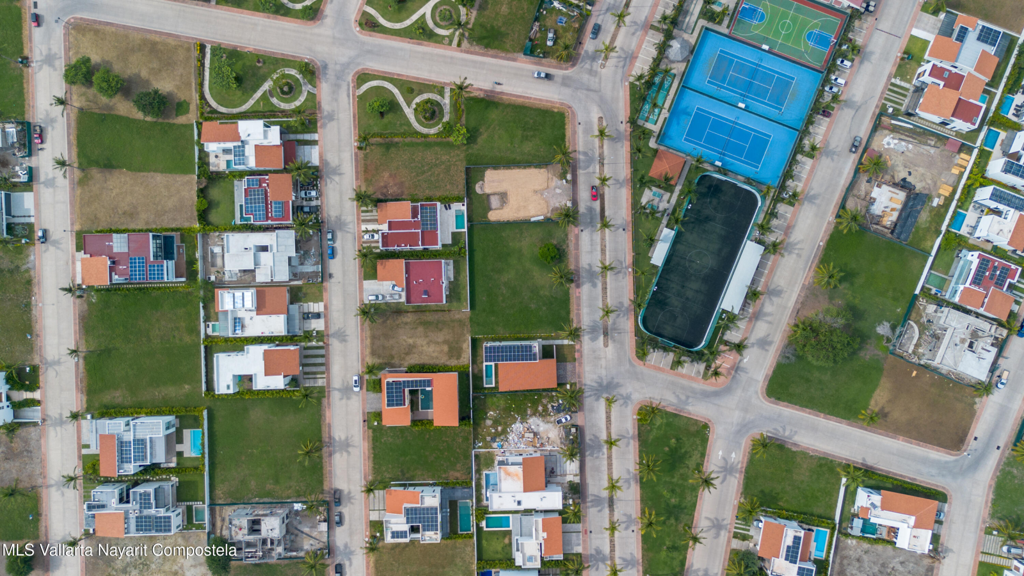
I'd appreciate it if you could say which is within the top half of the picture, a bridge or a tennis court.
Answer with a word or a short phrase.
tennis court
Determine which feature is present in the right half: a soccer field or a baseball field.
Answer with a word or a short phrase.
soccer field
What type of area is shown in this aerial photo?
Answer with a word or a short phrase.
residential area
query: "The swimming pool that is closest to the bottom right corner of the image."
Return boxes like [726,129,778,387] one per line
[861,517,878,536]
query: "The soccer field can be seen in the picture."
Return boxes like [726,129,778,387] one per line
[640,168,769,352]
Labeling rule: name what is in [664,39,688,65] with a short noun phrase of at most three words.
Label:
gazebo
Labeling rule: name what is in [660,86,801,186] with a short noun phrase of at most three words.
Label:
tennis court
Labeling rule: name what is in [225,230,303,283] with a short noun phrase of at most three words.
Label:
house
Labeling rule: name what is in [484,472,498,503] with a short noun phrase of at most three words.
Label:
swimming pool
